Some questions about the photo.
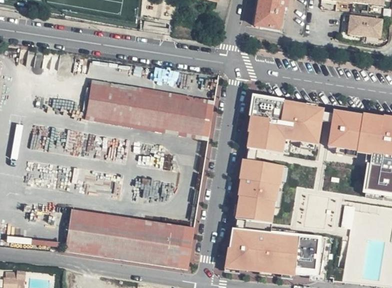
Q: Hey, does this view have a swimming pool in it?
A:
Yes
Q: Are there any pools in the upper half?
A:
No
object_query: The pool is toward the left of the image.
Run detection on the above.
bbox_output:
[24,272,56,288]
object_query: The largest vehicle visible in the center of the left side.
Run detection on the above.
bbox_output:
[9,122,21,164]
